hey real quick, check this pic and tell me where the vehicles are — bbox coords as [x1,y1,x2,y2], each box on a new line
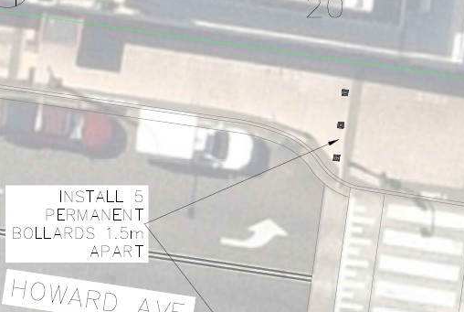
[132,107,255,165]
[0,94,113,150]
